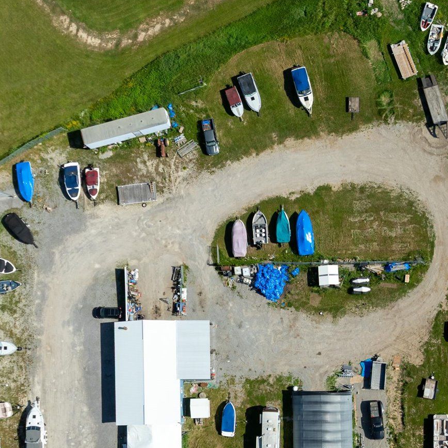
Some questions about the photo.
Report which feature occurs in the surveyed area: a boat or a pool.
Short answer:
boat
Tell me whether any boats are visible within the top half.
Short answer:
Yes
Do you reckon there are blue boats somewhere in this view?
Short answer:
Yes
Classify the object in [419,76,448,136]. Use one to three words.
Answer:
trailer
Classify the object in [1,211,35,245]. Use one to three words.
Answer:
boat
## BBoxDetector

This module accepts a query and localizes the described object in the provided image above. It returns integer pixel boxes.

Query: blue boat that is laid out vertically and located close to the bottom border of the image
[221,402,236,437]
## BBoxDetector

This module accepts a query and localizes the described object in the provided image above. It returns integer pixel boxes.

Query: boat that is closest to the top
[421,2,439,31]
